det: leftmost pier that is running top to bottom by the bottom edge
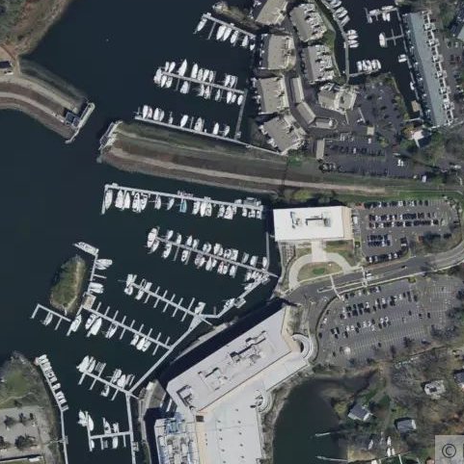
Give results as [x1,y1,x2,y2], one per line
[40,366,68,464]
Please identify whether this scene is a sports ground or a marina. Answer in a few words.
marina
